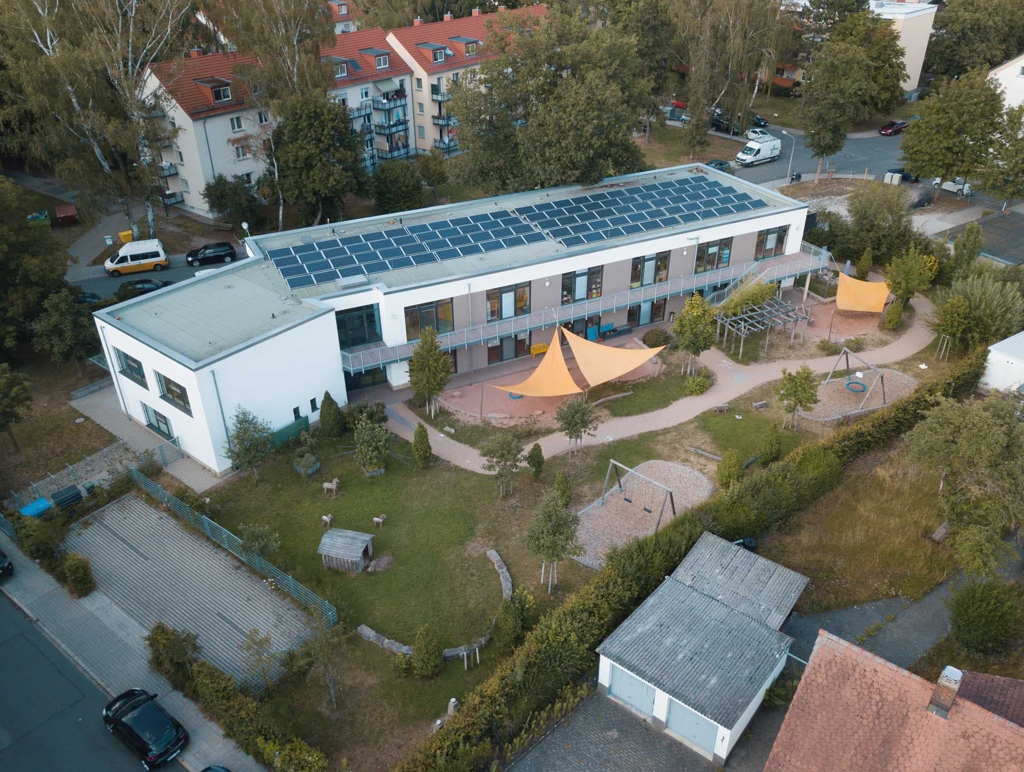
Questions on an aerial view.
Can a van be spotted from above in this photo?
Yes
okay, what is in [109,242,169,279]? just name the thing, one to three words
van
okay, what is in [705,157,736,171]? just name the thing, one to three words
car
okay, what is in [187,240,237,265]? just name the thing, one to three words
car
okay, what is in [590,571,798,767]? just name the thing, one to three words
building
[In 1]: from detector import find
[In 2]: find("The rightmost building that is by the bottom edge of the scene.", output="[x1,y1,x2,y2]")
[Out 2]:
[759,628,1024,772]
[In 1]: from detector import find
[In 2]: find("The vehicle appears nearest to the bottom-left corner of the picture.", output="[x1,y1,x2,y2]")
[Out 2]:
[106,690,189,772]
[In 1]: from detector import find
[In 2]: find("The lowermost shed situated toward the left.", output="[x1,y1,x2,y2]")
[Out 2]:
[317,536,372,572]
